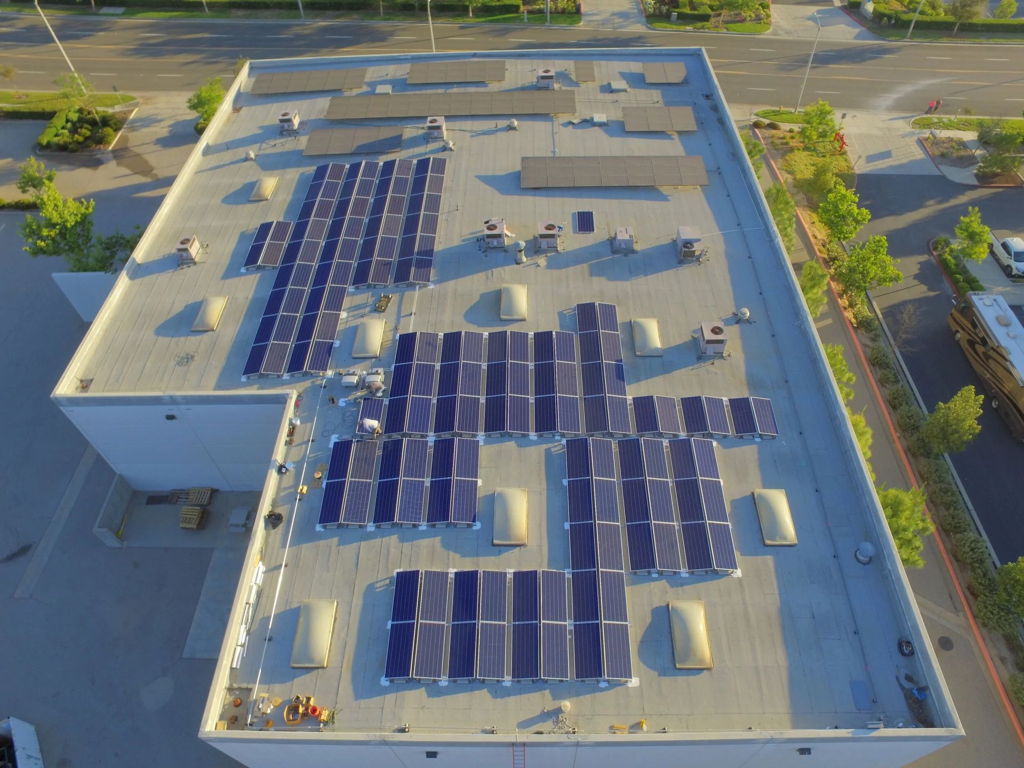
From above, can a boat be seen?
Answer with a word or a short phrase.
No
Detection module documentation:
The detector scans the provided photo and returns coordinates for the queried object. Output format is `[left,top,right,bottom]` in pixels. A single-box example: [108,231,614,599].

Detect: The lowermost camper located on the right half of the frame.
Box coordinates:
[950,293,1024,473]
